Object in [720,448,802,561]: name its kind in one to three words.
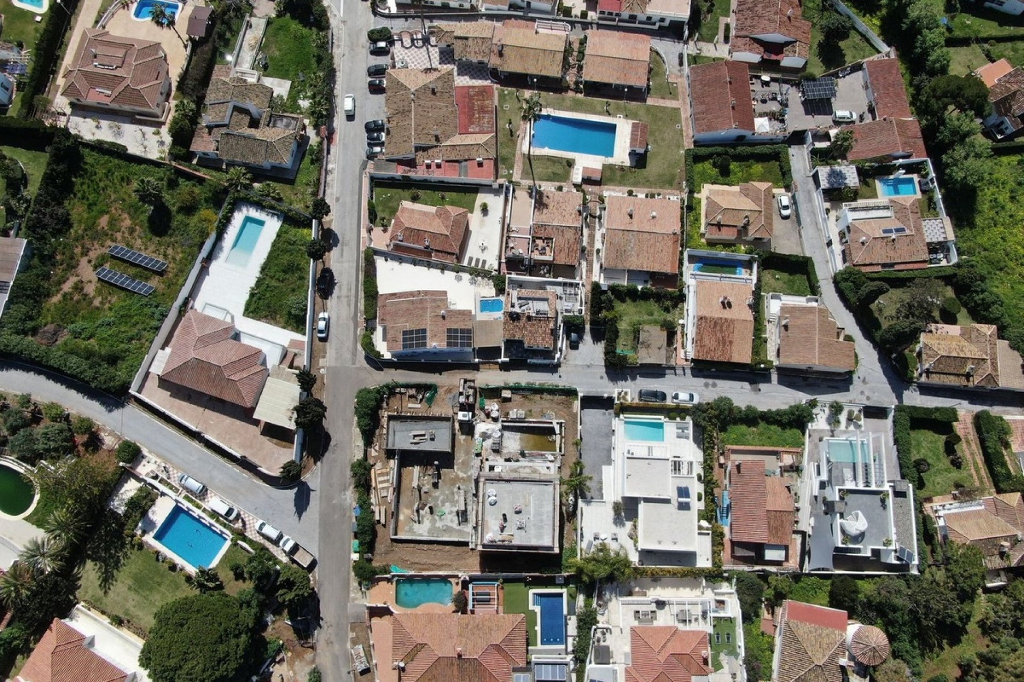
house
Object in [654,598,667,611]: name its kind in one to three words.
umbrella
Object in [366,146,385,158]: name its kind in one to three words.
vehicle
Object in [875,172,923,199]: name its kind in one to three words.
swimming pool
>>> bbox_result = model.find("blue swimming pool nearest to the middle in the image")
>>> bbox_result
[478,297,505,313]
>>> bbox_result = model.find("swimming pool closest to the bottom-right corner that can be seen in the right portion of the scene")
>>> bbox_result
[827,438,869,464]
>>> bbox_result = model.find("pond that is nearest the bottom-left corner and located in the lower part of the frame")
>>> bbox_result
[0,459,40,523]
